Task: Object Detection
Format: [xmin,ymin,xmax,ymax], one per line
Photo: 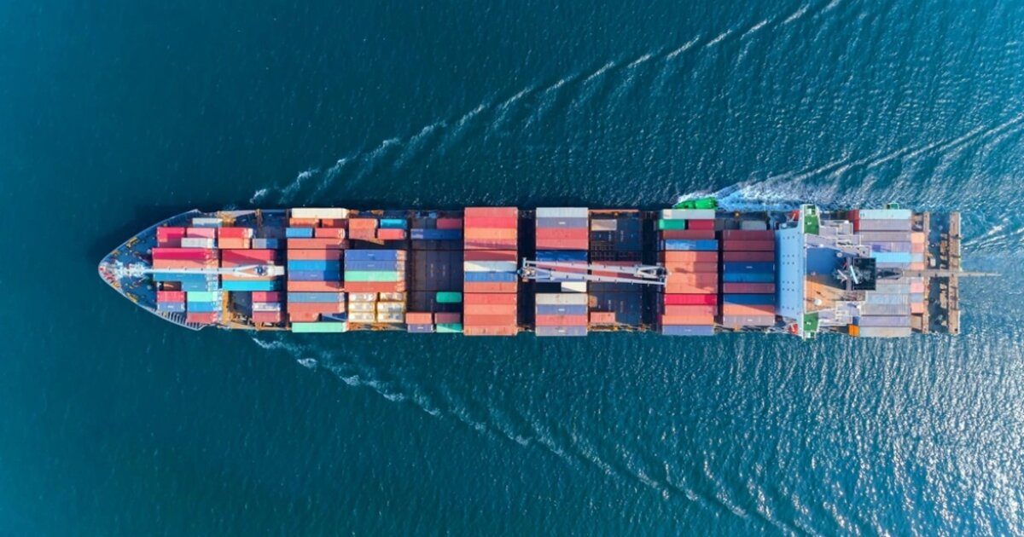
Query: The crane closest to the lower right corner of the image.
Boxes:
[875,266,999,281]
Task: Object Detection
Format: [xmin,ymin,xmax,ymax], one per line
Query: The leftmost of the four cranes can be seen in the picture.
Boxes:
[145,262,288,278]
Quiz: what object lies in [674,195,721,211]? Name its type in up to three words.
boat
